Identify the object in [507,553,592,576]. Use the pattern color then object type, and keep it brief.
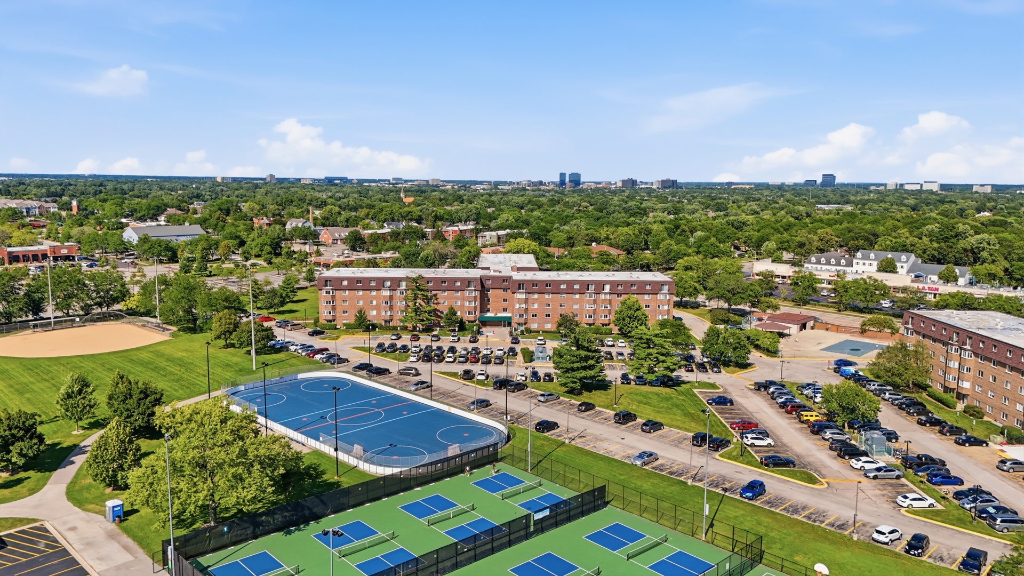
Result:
blue sports court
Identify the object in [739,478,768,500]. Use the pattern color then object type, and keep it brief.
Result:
blue car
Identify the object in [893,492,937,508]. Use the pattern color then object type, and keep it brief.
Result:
white car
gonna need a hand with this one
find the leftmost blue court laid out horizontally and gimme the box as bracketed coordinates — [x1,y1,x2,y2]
[209,550,296,576]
